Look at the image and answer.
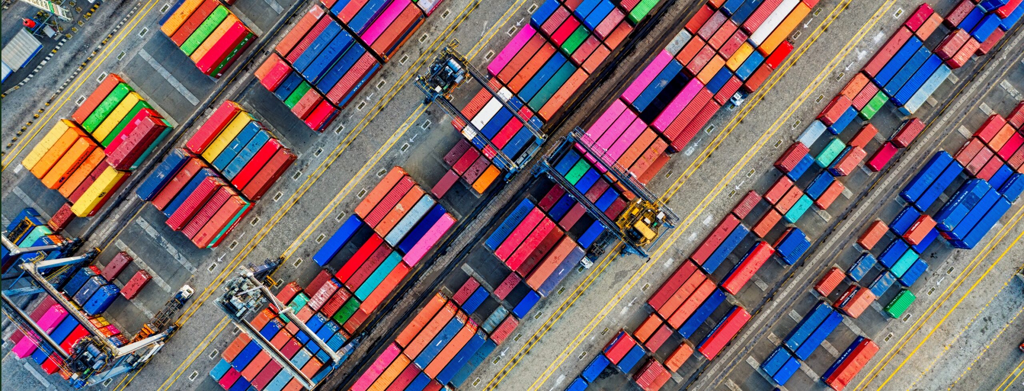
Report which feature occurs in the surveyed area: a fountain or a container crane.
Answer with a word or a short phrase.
container crane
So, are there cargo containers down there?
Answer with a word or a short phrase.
Yes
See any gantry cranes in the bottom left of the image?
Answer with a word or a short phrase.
Yes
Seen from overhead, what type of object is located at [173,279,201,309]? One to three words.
vehicle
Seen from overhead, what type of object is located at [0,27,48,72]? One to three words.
shed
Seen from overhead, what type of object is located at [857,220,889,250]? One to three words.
shipping container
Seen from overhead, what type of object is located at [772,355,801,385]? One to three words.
shipping container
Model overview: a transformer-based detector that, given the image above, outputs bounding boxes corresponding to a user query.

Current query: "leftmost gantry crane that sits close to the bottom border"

[0,235,191,391]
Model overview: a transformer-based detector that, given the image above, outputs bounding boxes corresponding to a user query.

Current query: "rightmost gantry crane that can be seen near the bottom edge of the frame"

[204,246,380,391]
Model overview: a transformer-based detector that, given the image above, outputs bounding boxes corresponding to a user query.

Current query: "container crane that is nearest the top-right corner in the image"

[530,121,681,259]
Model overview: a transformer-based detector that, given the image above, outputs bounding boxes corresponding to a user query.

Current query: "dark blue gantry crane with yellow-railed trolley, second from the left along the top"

[409,33,554,184]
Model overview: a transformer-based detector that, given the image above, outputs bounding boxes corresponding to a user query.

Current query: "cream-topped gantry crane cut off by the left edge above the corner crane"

[0,228,101,286]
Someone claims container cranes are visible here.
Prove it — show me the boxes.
[0,235,191,391]
[409,33,554,184]
[0,228,101,286]
[530,121,681,259]
[204,246,380,391]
